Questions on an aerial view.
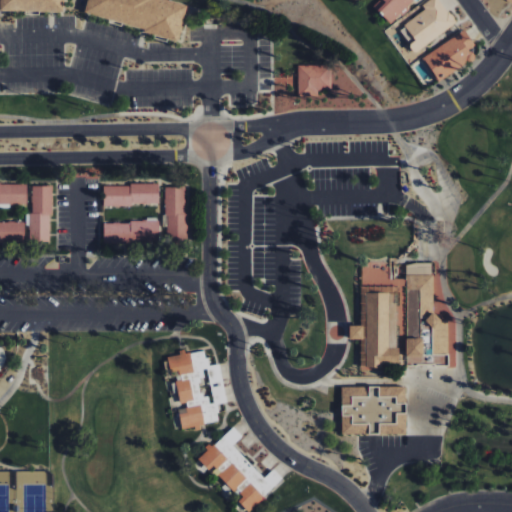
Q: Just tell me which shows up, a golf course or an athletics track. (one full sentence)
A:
Looking from above, you can make out a golf course.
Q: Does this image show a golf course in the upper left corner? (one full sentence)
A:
No, there's no golf course to be seen in the upper left corner.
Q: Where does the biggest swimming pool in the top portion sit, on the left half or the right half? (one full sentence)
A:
The biggest swimming pool in the top portion sits on the right side.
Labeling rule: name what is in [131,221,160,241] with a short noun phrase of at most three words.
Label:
building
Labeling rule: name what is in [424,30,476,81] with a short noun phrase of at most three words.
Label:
house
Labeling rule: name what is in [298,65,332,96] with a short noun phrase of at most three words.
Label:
house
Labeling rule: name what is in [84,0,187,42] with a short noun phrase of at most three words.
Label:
building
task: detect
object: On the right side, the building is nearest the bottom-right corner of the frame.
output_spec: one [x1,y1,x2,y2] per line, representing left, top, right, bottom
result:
[342,386,408,436]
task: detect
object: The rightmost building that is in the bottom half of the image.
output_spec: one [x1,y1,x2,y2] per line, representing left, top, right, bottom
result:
[406,263,450,366]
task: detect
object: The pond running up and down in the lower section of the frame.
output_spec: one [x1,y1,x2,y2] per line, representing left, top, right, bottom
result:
[474,306,512,386]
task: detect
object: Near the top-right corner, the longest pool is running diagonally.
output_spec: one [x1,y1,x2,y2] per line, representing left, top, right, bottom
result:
[412,60,434,84]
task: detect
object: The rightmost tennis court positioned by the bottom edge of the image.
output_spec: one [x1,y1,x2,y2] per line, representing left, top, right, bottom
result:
[16,471,52,512]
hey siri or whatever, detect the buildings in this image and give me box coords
[166,187,186,214]
[0,0,64,14]
[103,223,130,242]
[424,30,476,81]
[103,186,130,208]
[198,426,284,512]
[0,184,26,206]
[362,291,404,370]
[374,0,417,24]
[84,0,187,42]
[0,222,24,243]
[406,263,450,366]
[406,0,459,52]
[168,350,226,431]
[298,65,332,96]
[130,183,160,206]
[131,221,160,241]
[168,214,188,240]
[342,386,408,436]
[32,185,52,214]
[29,214,50,242]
